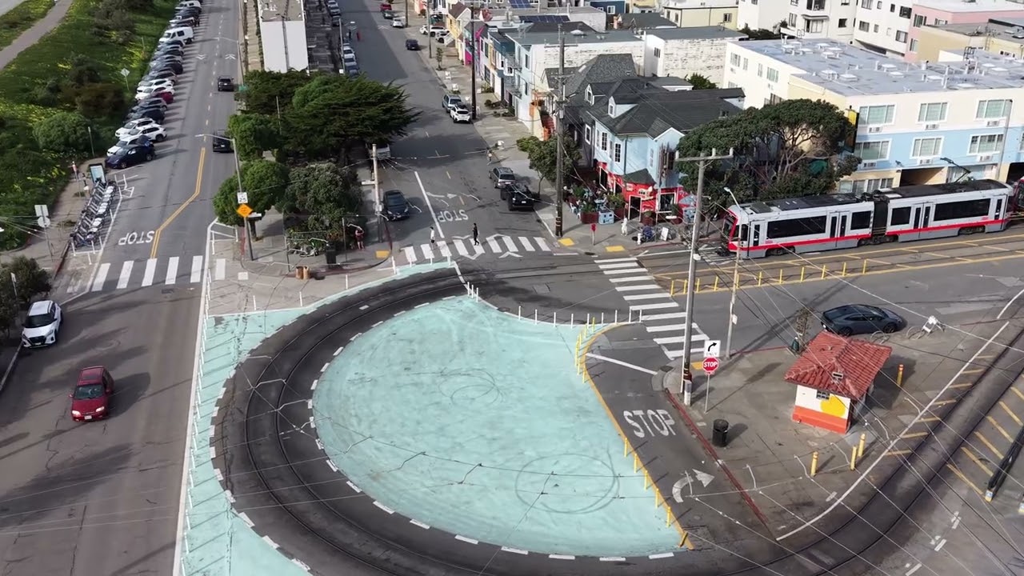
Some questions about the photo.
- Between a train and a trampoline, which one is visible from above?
train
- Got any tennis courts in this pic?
No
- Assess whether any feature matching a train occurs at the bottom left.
No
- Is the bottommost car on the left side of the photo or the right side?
left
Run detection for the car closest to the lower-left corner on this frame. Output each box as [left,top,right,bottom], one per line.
[73,364,120,415]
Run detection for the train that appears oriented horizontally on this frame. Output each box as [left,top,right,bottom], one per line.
[718,161,1016,255]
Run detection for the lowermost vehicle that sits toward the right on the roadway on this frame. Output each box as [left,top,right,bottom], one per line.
[816,302,899,335]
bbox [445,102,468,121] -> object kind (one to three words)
car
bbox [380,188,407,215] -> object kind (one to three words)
car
